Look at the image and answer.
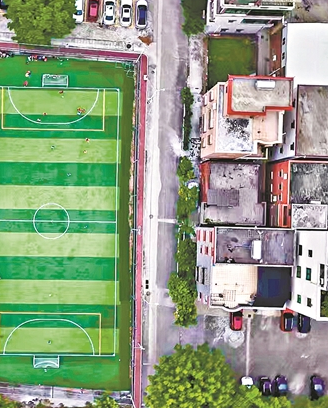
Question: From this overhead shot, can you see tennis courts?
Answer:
No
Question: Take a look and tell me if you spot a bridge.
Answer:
No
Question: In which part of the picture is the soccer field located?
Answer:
left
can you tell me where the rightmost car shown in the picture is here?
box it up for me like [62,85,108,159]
[309,372,324,400]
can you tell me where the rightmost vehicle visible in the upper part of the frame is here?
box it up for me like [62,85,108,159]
[135,0,148,28]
